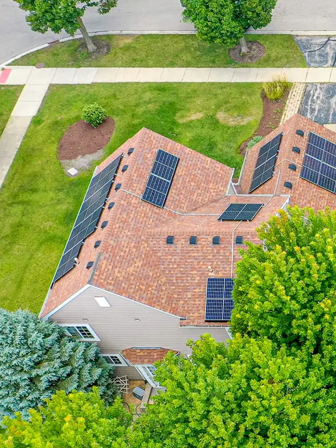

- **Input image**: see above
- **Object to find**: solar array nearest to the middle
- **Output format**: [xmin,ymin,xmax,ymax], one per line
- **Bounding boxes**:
[149,148,183,206]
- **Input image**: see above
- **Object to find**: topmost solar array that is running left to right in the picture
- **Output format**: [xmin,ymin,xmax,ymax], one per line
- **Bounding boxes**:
[219,203,268,217]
